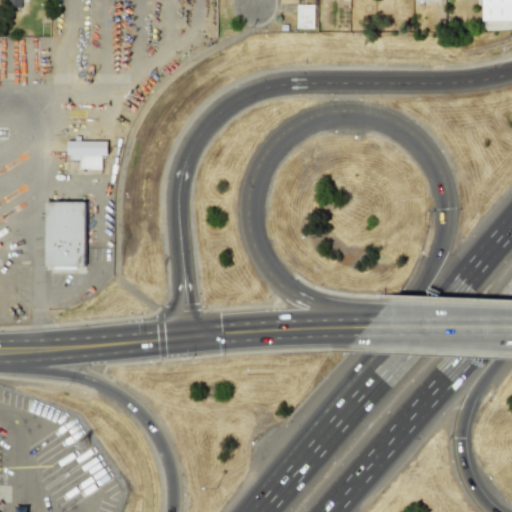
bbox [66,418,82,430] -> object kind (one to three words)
vehicle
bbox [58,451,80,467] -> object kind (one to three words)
vehicle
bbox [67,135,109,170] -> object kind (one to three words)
building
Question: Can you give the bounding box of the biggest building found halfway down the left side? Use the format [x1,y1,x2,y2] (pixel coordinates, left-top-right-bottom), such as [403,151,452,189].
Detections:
[46,203,86,270]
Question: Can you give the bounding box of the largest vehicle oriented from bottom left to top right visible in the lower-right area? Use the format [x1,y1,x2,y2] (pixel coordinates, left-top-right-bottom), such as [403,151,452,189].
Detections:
[449,376,465,394]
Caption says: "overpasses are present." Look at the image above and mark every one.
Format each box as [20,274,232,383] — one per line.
[336,296,512,358]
